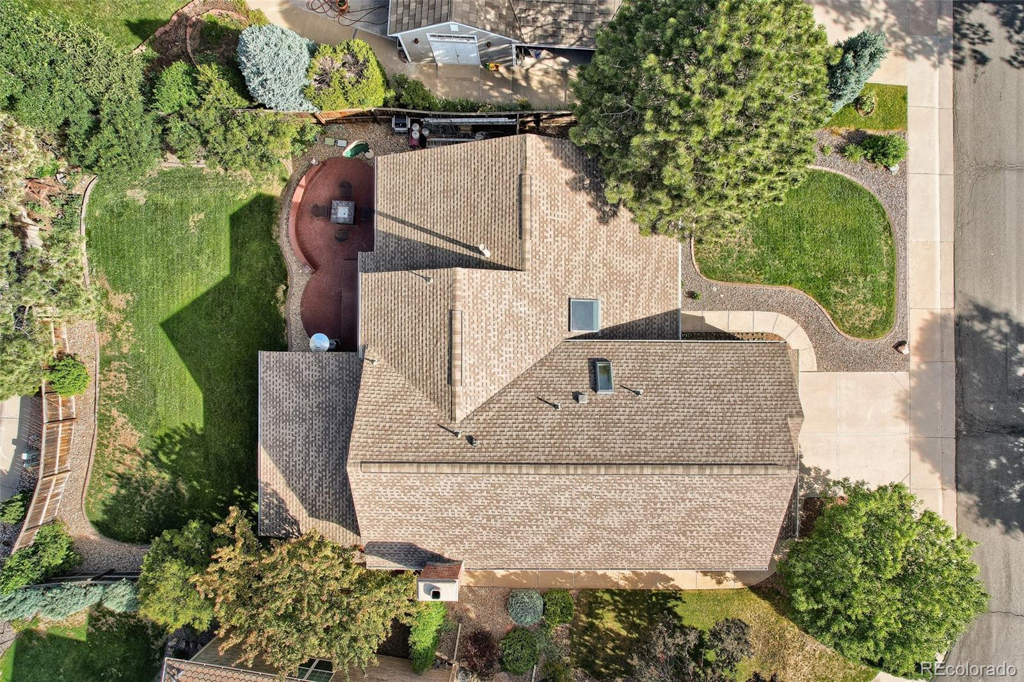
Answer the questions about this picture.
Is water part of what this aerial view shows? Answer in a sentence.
No, the picture contains no water.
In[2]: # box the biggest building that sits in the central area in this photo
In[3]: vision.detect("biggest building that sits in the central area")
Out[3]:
[256,133,807,602]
